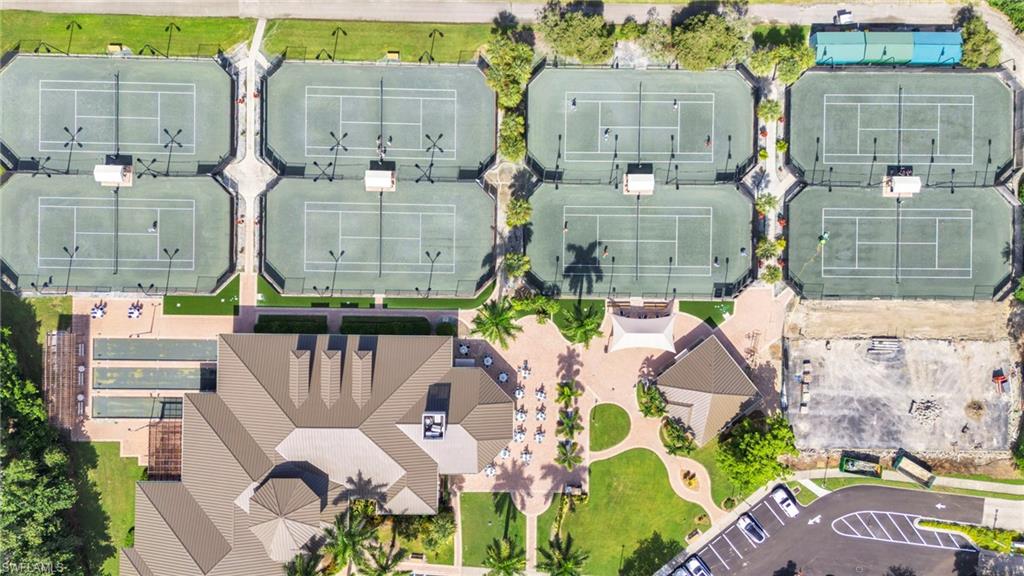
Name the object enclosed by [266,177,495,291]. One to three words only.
tennis court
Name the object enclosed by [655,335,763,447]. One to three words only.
building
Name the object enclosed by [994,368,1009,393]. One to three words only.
work vehicle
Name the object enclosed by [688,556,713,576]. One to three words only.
car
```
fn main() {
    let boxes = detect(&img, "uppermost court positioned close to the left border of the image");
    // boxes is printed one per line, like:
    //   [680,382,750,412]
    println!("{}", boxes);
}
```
[0,56,227,174]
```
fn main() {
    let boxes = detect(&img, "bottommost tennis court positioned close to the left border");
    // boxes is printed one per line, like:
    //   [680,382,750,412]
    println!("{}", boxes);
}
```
[0,173,226,291]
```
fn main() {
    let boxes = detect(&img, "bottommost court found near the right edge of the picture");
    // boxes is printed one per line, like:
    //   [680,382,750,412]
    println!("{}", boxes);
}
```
[794,185,1013,298]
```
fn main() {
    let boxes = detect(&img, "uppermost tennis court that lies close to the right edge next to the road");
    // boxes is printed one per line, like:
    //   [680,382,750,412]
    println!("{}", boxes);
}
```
[794,73,1014,184]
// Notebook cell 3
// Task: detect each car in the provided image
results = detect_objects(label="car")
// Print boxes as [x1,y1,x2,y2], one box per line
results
[769,485,800,519]
[738,512,764,542]
[688,556,713,576]
[674,568,690,576]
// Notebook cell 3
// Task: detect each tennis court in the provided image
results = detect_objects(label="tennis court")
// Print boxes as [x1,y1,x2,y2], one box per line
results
[266,177,495,291]
[0,173,226,291]
[526,183,752,294]
[526,69,753,182]
[264,62,495,178]
[0,56,227,174]
[794,185,1013,298]
[794,73,1014,184]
